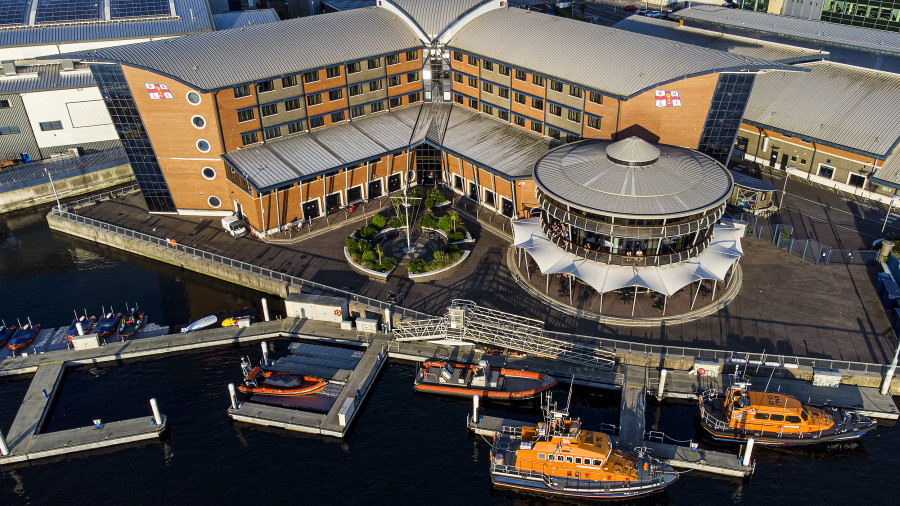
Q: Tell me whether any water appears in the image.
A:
Yes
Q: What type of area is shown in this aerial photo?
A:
industrial area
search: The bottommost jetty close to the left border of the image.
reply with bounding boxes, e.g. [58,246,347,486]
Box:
[0,414,169,463]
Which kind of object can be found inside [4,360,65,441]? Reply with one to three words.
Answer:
pier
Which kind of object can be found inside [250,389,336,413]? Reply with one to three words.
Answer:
pier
